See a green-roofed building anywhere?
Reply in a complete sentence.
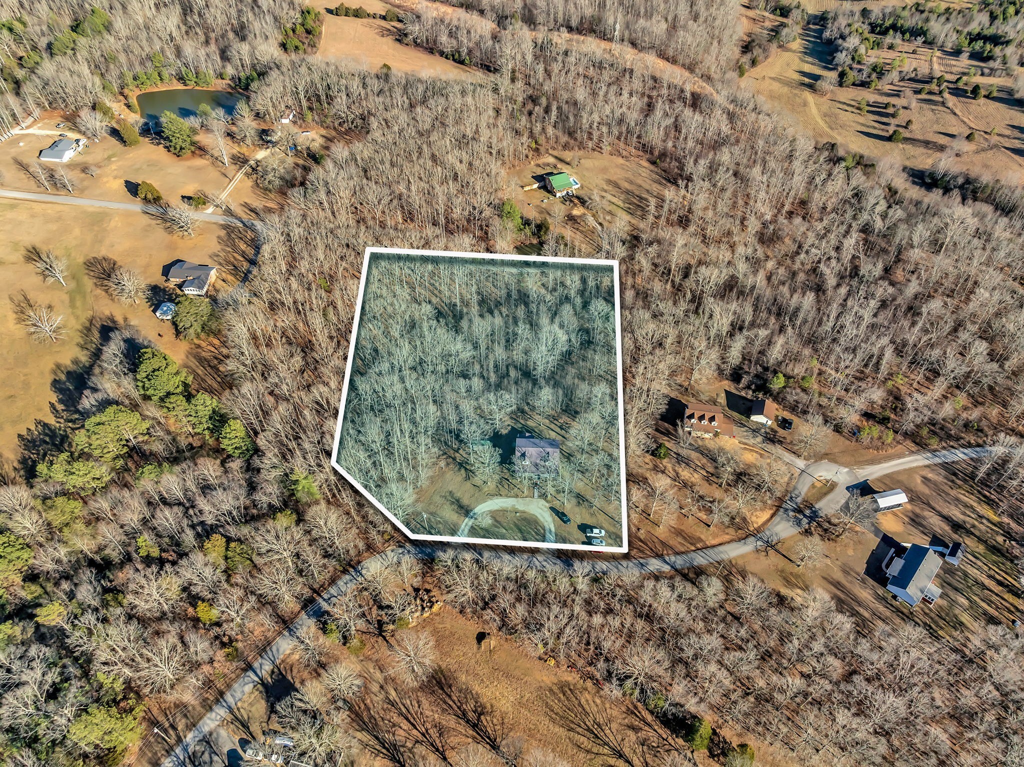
Yes, a green-roofed building is visible in the scene.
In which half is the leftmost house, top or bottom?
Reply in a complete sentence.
You can find the leftmost house in the top half.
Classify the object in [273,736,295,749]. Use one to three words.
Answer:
vehicle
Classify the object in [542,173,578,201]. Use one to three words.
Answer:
house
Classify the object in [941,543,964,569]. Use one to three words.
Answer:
shed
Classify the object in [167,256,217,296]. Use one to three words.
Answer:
house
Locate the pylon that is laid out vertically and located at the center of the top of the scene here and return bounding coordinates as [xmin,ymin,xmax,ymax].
[611,25,624,58]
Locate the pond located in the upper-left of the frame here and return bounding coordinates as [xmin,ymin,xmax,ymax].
[137,92,251,140]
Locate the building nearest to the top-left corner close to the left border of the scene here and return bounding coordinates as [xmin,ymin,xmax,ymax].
[33,137,83,166]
